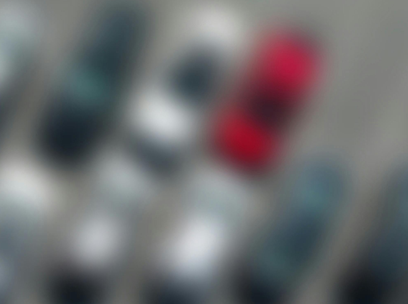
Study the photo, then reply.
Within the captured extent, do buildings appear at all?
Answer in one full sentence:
No, the picture doesn't show any building.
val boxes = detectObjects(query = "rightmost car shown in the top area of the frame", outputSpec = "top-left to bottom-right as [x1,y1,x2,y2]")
[214,38,319,176]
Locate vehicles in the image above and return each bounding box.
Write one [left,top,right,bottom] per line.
[139,173,251,304]
[0,169,54,304]
[214,38,319,176]
[134,15,247,167]
[231,162,352,304]
[0,25,40,134]
[38,162,153,304]
[33,13,154,169]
